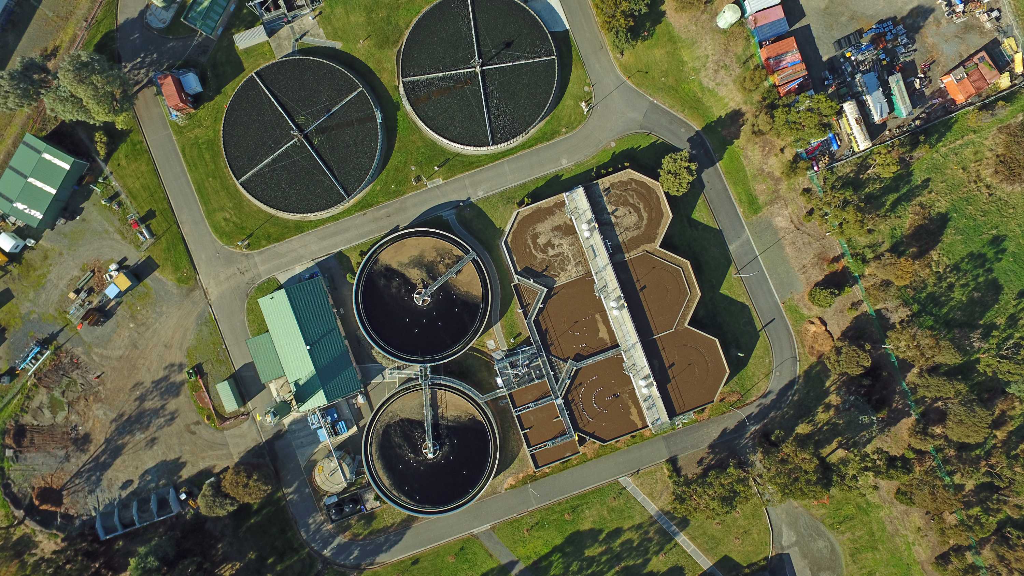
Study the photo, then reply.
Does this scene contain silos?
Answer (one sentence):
Yes, looking at the shot, I can spot a silo.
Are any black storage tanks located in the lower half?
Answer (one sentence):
Yes, a black storage tank can be seen in the lower half.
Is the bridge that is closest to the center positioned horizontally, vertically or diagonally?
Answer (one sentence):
In this picture, the bridge that is closest to the center lies diagonally.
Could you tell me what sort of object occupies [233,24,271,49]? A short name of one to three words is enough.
building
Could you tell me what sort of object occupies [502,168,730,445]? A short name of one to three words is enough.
storage tank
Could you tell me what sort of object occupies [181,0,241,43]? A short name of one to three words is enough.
building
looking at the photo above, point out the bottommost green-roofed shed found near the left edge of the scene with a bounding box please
[0,133,105,230]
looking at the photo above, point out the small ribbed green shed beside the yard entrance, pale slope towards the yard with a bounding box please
[216,378,251,413]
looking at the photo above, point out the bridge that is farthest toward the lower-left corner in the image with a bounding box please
[419,366,434,454]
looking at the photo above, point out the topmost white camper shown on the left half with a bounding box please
[0,232,28,253]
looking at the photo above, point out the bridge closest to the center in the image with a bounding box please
[416,248,480,302]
